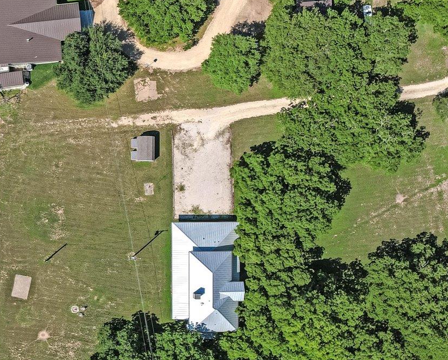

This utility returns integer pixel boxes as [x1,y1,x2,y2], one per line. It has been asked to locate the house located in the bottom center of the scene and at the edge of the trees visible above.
[171,222,244,332]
